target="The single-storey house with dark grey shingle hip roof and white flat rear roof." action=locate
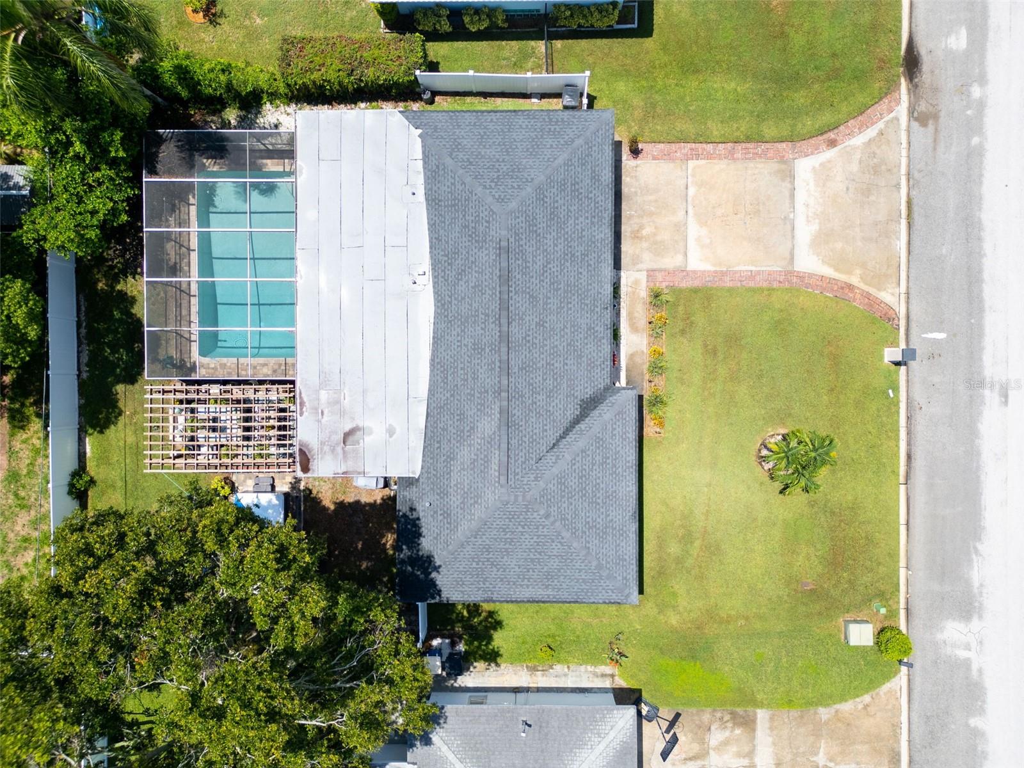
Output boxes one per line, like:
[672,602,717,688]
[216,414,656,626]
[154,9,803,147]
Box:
[296,110,638,603]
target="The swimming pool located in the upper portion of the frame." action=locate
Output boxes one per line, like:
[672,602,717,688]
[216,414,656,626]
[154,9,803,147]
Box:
[189,164,295,364]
